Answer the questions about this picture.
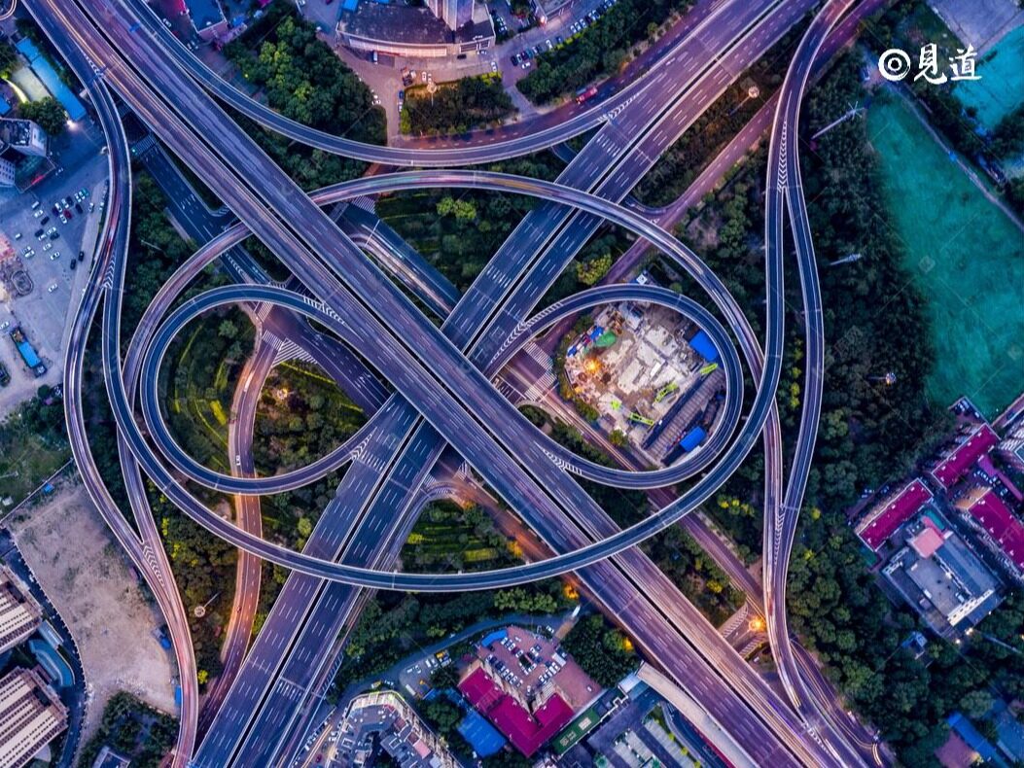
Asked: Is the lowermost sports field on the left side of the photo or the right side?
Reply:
right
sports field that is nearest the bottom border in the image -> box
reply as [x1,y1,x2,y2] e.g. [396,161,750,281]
[862,89,1024,419]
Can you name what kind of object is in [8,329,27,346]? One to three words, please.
vehicle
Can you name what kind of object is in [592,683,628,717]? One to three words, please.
building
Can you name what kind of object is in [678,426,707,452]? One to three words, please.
building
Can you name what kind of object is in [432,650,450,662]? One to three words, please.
vehicle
